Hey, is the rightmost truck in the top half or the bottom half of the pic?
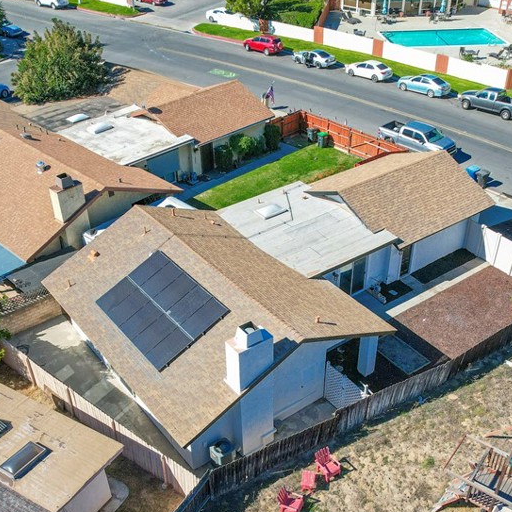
top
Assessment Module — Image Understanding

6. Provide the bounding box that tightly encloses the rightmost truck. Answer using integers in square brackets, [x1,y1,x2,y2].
[457,85,512,120]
